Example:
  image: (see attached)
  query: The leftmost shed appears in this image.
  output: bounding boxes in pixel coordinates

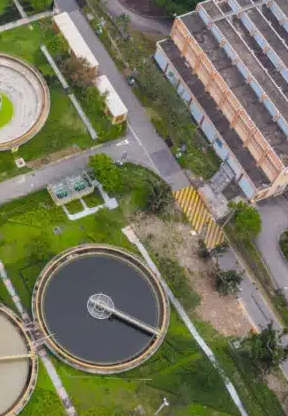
[52,12,99,76]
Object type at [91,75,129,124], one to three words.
shed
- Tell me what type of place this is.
industrial area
